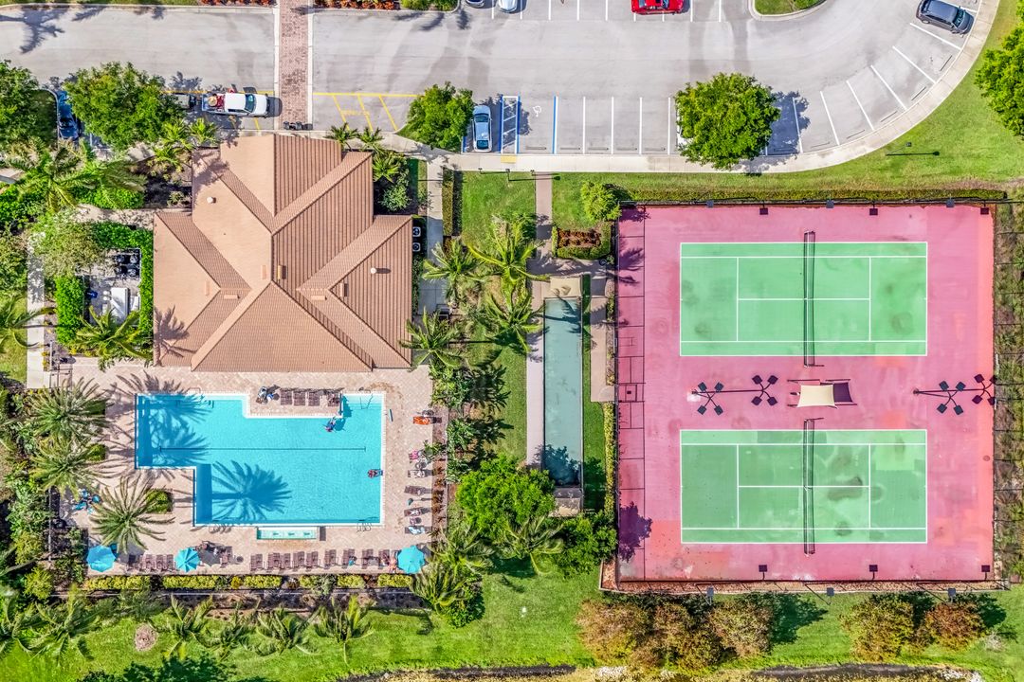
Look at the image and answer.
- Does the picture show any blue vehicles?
Yes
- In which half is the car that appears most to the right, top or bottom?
top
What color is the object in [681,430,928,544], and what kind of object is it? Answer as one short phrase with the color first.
green tennis court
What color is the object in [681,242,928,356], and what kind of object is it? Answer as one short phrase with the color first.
green tennis court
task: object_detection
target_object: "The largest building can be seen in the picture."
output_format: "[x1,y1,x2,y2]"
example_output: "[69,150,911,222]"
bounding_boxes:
[153,133,413,371]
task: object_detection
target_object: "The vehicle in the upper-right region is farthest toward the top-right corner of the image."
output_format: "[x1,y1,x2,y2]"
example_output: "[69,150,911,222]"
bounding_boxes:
[915,0,971,35]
